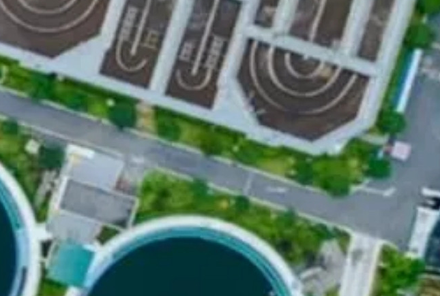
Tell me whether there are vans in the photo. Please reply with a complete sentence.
No, I can't see a single van in this photo.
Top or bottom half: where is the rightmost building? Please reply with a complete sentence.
Seen from above, the rightmost building lies in the bottom half of the view.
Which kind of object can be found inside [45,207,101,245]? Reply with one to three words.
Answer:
building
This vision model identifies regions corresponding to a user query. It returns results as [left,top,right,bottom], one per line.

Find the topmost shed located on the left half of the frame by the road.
[63,145,124,191]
